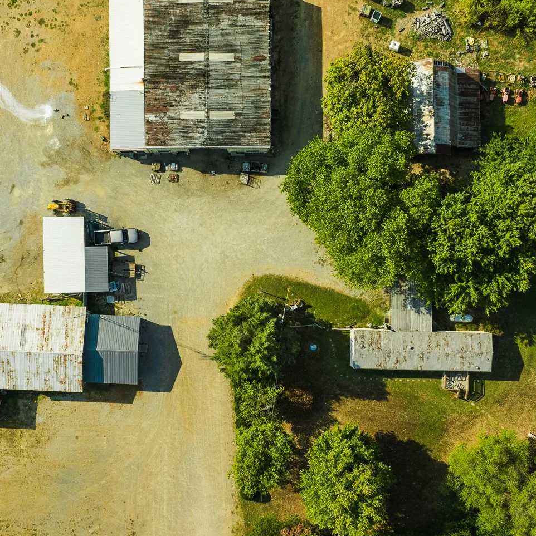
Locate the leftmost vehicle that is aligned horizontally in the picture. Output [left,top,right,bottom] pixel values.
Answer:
[45,199,84,216]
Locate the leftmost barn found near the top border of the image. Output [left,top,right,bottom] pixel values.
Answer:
[106,0,272,157]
